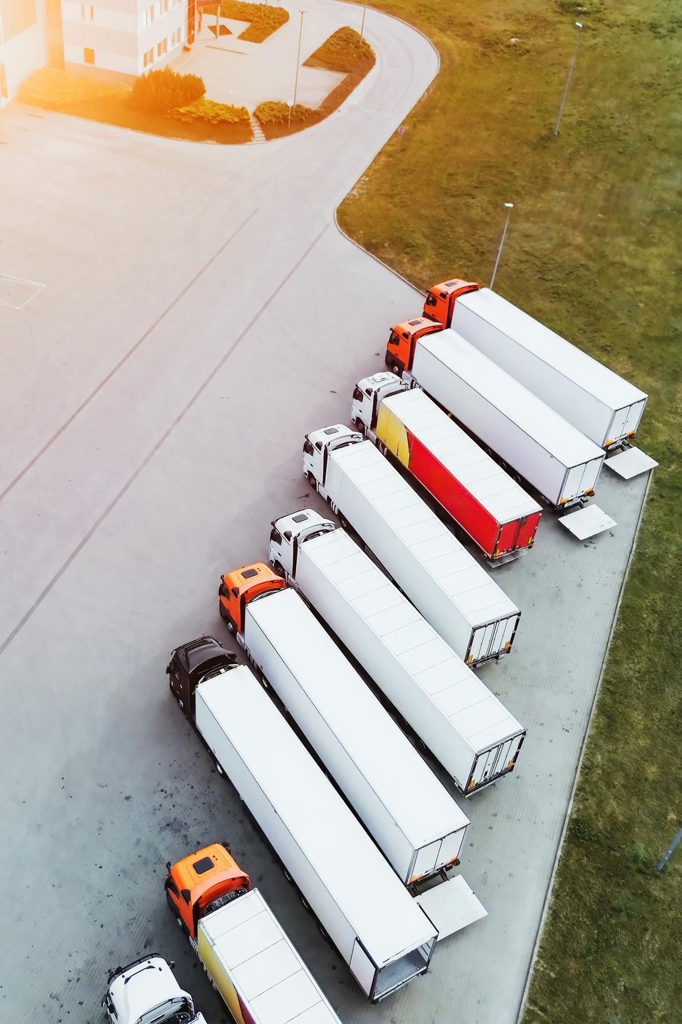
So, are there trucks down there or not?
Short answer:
Yes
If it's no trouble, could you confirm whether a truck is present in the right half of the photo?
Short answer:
Yes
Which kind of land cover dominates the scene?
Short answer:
paved ground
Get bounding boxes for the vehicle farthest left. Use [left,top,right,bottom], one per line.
[97,958,206,1024]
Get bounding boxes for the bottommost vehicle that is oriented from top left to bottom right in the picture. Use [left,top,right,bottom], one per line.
[161,844,347,1024]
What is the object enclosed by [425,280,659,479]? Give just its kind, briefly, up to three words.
truck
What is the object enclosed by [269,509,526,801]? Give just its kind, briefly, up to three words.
truck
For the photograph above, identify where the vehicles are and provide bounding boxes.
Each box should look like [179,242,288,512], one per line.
[161,844,347,1024]
[269,509,526,801]
[218,566,488,941]
[303,426,521,671]
[97,958,206,1024]
[387,320,616,541]
[167,638,441,1009]
[425,280,659,479]
[353,376,543,572]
